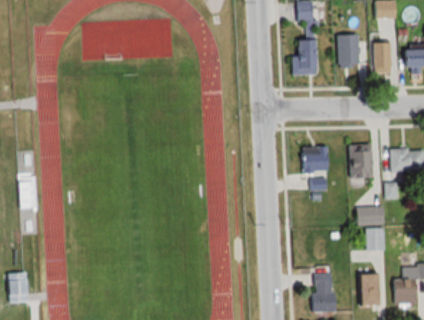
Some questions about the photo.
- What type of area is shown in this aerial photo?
sports ground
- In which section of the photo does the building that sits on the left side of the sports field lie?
bottom left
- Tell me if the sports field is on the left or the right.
left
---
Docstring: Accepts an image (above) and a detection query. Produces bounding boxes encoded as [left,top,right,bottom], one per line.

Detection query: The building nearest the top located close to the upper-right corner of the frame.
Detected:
[374,0,398,18]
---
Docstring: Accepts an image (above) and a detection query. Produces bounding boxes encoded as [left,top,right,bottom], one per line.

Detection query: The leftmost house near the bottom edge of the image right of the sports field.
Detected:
[311,268,338,311]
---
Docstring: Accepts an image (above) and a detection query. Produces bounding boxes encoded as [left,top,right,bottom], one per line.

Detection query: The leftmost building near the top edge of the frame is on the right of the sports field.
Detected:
[291,0,318,75]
